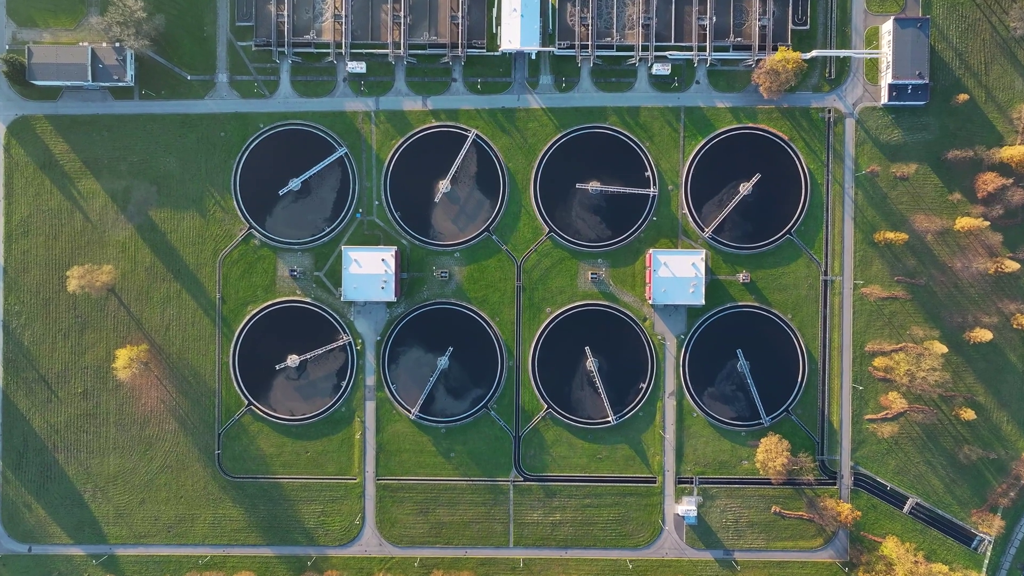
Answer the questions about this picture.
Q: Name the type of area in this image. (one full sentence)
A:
The area seen from above is an industrial area.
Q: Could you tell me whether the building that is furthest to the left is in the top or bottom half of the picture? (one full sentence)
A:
You can find the building that is furthest to the left in the top half.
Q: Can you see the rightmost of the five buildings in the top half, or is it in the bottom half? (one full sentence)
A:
The rightmost of the five buildings sits in the top half of the picture.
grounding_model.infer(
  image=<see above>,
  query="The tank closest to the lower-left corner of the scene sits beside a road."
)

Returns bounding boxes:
[229,296,359,426]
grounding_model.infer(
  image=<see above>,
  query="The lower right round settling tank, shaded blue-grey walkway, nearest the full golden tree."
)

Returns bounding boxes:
[678,301,809,432]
